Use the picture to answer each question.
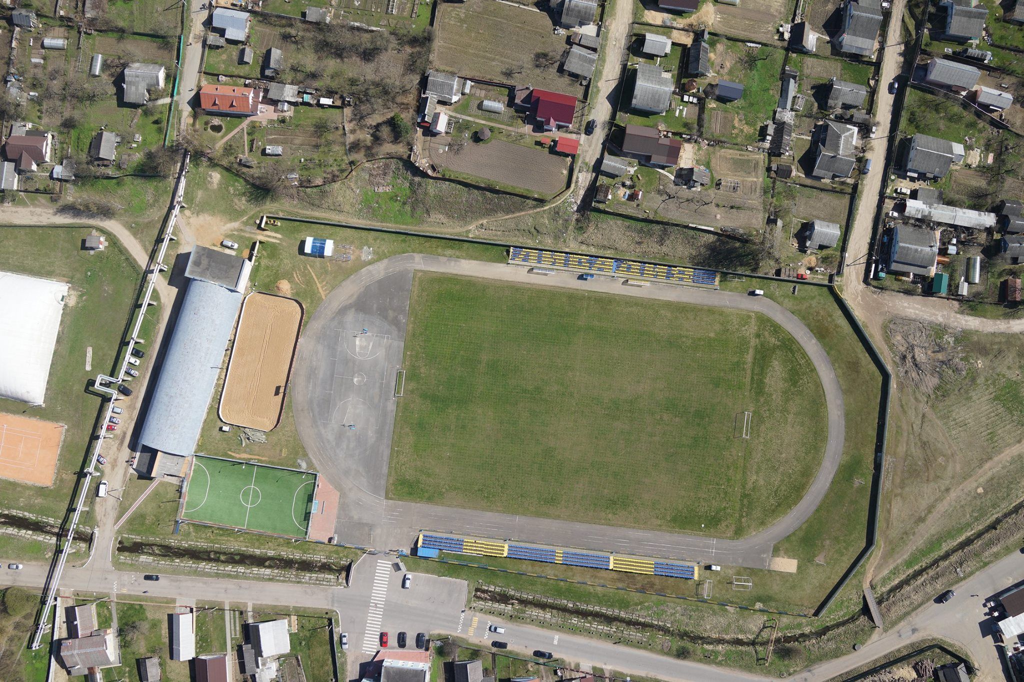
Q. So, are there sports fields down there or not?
Yes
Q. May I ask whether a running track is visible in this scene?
Yes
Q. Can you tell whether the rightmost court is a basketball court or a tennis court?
basketball court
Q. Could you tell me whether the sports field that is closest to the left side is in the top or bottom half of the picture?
bottom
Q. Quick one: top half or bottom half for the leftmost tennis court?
bottom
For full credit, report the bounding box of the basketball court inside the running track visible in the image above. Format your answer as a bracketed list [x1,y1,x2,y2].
[317,271,414,498]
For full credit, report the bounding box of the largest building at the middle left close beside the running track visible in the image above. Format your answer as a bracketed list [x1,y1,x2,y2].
[132,244,258,478]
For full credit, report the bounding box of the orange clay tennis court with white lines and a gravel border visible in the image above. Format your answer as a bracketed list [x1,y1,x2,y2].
[0,412,68,489]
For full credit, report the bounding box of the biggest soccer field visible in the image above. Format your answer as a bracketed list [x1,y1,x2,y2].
[385,271,827,539]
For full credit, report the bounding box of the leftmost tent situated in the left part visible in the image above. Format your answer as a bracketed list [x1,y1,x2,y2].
[304,237,336,257]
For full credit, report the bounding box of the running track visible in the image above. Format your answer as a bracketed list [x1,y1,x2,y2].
[292,254,845,569]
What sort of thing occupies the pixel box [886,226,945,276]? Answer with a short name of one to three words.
house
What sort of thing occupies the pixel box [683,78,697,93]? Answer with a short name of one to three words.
gazebo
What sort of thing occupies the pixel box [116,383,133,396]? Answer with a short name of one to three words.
vehicle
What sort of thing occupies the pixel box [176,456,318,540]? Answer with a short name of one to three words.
sports field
